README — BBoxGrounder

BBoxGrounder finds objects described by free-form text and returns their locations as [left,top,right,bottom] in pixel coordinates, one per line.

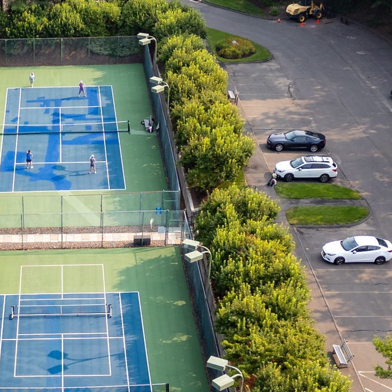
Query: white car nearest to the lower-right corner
[321,234,392,262]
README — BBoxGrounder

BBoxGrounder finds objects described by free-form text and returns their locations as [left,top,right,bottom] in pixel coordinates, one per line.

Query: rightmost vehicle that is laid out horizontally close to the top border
[285,0,338,22]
